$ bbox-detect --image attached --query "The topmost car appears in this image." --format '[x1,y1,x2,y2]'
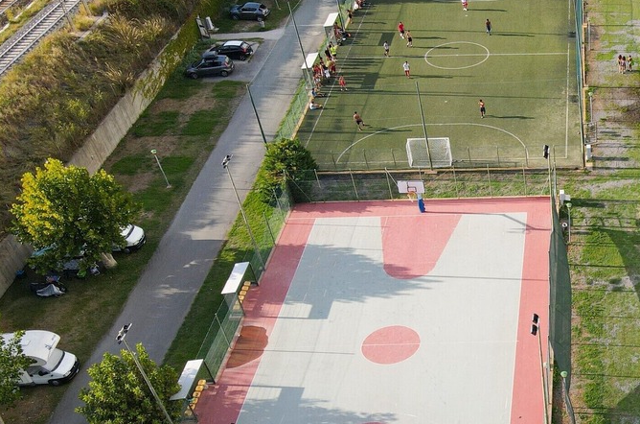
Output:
[229,4,272,23]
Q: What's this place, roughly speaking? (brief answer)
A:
sports ground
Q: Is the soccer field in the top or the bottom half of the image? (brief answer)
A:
top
